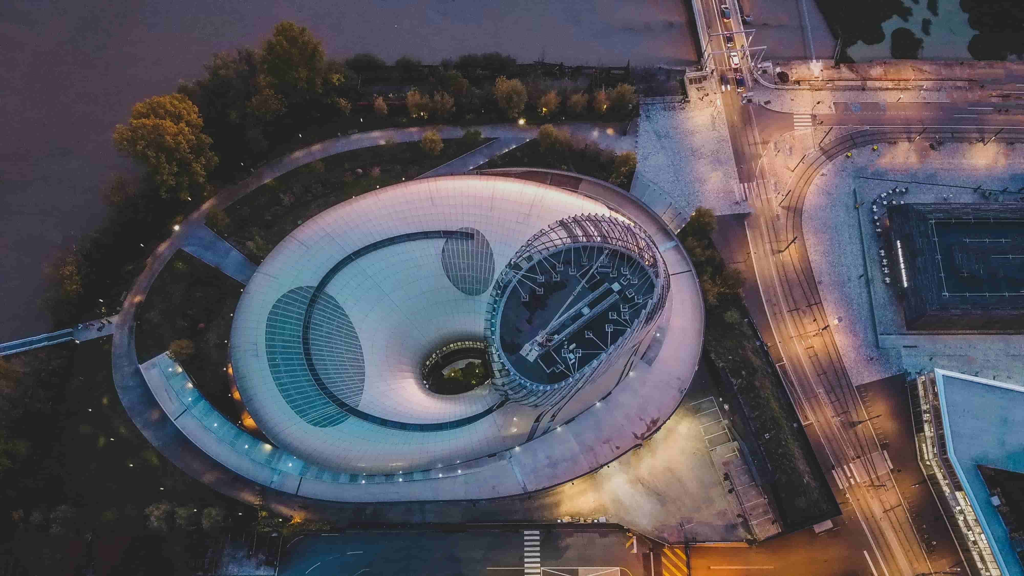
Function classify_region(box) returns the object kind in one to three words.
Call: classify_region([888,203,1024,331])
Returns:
building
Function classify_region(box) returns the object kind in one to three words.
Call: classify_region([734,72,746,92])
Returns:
vehicle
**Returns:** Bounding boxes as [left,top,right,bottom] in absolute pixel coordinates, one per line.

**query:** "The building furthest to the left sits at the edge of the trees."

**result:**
[139,167,705,502]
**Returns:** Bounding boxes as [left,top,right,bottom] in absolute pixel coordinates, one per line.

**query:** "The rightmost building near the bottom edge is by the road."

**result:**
[877,369,1024,576]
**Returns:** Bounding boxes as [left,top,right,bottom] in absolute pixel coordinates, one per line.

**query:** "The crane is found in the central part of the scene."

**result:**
[520,248,610,363]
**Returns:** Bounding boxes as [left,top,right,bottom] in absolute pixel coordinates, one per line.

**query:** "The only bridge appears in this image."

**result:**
[693,0,754,75]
